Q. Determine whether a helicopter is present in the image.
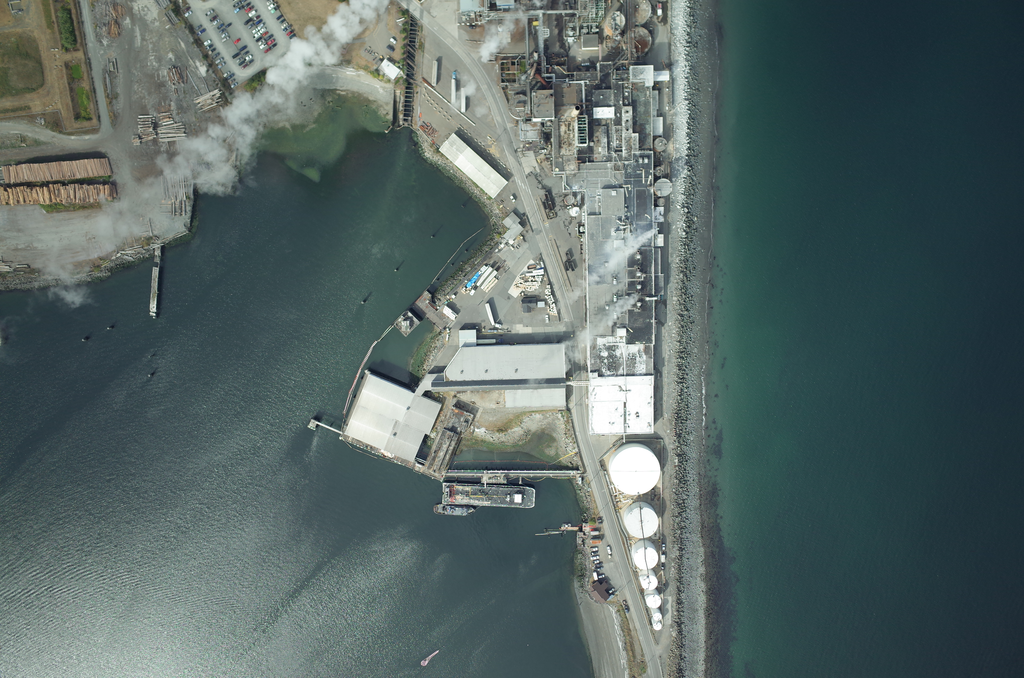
No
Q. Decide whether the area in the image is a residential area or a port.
port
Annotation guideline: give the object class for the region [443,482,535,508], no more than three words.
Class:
ship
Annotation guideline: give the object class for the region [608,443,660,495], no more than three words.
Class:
storage tank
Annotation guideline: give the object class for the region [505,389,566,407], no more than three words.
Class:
building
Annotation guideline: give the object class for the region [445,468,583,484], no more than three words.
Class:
pier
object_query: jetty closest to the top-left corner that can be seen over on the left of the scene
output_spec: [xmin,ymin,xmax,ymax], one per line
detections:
[149,246,162,312]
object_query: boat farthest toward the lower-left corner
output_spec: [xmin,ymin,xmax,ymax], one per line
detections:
[434,503,474,516]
